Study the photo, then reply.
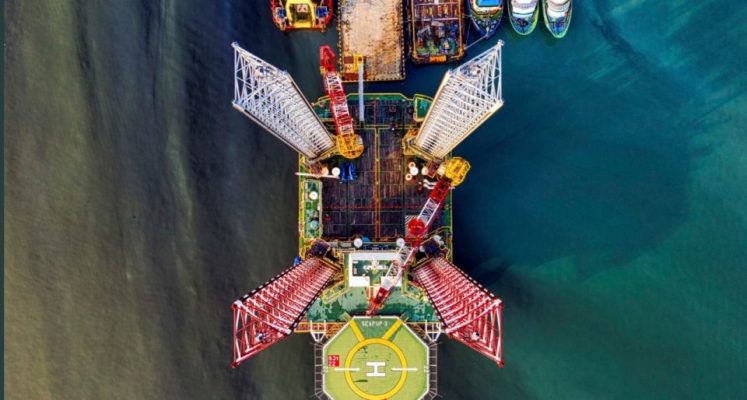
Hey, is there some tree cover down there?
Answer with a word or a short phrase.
No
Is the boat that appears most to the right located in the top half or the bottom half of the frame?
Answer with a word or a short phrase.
top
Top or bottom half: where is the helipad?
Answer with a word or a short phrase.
bottom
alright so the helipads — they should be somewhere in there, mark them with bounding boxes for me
[311,307,444,400]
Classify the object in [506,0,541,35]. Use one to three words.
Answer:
boat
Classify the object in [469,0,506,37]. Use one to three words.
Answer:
boat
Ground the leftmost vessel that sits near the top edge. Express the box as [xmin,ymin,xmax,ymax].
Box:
[269,0,332,31]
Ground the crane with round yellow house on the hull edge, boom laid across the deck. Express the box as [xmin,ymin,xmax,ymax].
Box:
[371,155,473,306]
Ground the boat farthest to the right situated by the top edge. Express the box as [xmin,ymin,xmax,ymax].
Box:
[540,0,574,39]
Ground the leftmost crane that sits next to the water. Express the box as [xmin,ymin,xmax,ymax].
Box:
[314,42,365,161]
